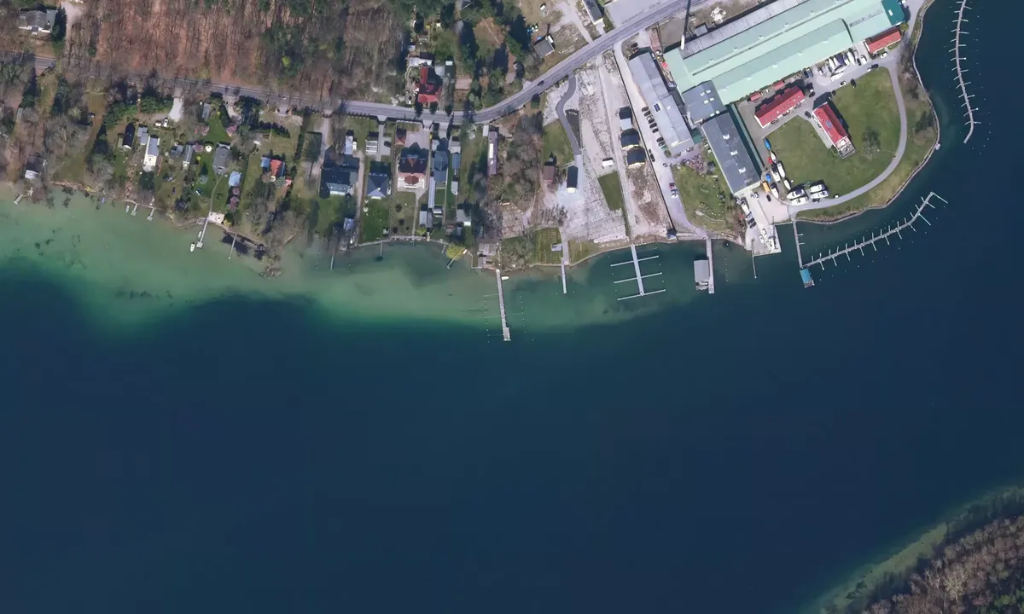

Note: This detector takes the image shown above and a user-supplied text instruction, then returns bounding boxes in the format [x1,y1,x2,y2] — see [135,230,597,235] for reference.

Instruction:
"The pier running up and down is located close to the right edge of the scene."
[949,0,982,143]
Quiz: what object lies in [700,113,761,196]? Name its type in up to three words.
building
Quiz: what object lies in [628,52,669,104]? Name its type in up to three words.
building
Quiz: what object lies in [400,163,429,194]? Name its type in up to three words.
house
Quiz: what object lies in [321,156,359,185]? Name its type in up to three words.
house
